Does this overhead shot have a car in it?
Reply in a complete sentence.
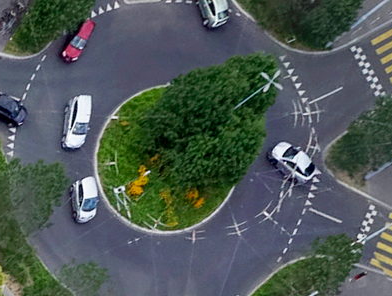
Yes, you can see a car in this photo.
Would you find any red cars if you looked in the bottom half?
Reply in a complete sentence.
No, looking in the bottom half, there is no red car.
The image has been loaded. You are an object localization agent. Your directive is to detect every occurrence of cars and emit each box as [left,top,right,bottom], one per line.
[71,176,100,220]
[0,87,29,126]
[196,0,232,28]
[59,17,98,66]
[62,96,92,147]
[270,144,319,184]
